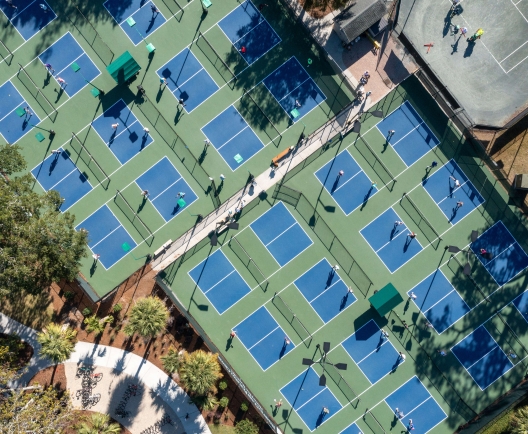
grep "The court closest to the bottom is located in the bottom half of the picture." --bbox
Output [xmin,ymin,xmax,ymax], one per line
[342,376,449,434]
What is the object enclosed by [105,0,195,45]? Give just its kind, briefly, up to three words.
sports court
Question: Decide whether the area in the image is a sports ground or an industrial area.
sports ground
